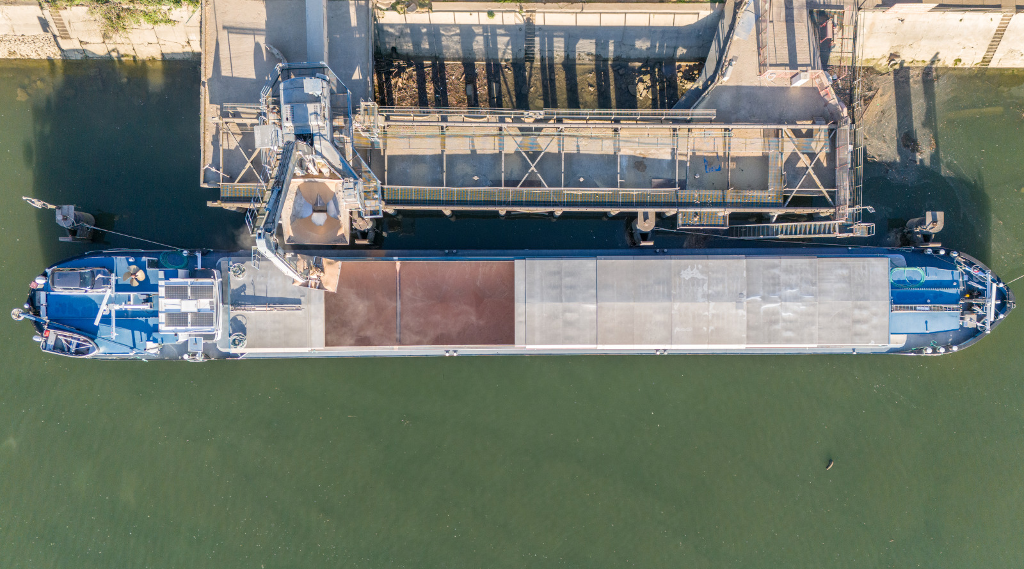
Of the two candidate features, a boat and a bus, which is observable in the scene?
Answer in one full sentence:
There is a boat in the scene.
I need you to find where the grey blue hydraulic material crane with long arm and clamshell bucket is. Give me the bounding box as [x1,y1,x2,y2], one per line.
[241,58,377,293]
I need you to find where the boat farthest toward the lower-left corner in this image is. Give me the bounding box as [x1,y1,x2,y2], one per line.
[31,329,100,358]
